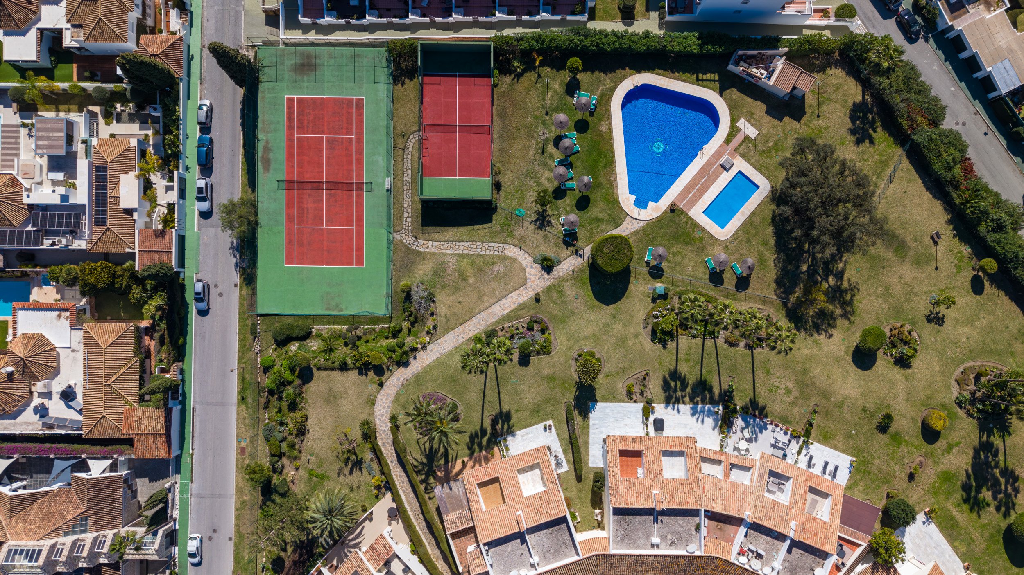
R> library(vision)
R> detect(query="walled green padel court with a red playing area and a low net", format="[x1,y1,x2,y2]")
[418,38,493,201]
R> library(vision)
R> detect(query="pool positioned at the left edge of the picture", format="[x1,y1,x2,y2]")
[0,280,33,316]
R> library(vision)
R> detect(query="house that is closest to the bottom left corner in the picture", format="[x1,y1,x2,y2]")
[0,466,177,575]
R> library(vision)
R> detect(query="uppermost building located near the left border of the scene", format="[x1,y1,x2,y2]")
[0,0,192,81]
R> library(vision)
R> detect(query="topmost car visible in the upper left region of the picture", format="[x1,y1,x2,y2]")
[196,100,213,128]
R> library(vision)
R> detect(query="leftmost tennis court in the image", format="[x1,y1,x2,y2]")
[257,46,392,315]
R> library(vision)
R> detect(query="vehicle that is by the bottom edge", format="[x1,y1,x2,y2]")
[187,534,204,563]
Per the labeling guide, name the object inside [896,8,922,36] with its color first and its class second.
black car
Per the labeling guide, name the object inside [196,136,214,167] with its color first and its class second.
blue car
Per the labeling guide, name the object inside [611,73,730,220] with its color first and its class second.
blue swimming pool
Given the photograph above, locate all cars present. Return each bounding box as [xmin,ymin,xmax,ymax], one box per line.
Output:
[196,136,214,167]
[196,100,213,128]
[896,8,922,36]
[187,534,204,563]
[195,179,213,212]
[193,281,211,310]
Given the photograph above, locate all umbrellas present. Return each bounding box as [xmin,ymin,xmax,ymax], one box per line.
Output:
[551,166,568,183]
[558,139,574,155]
[574,97,591,114]
[575,174,592,191]
[650,246,667,263]
[740,258,757,275]
[552,114,569,130]
[712,254,729,270]
[561,212,578,229]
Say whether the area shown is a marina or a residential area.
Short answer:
residential area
